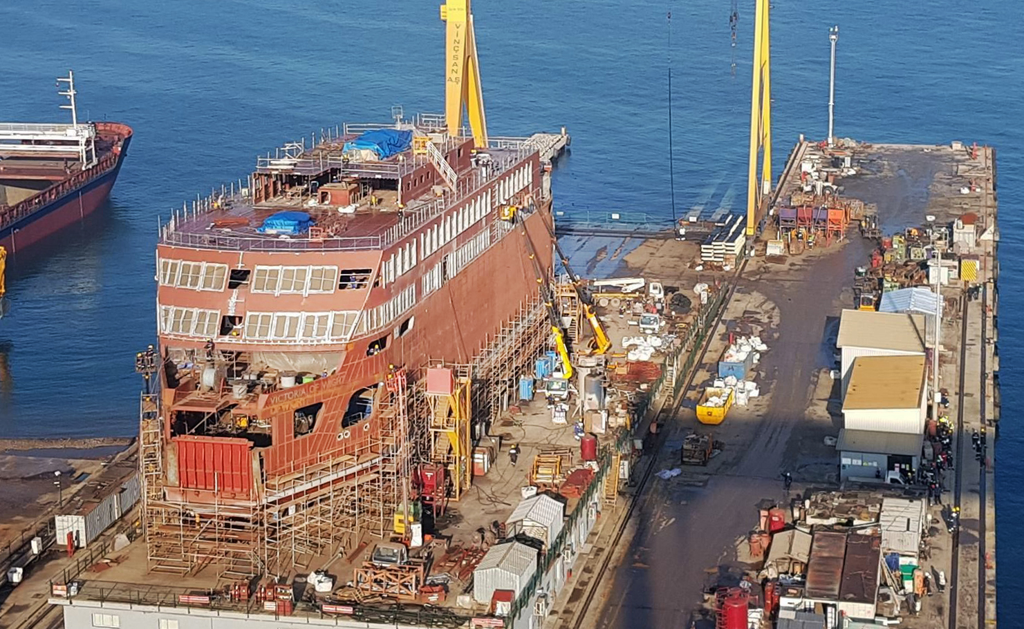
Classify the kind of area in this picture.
port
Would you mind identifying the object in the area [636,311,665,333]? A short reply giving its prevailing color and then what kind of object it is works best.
white truck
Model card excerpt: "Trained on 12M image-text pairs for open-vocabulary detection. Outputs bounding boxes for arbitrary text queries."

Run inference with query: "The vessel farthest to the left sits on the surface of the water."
[0,71,125,279]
